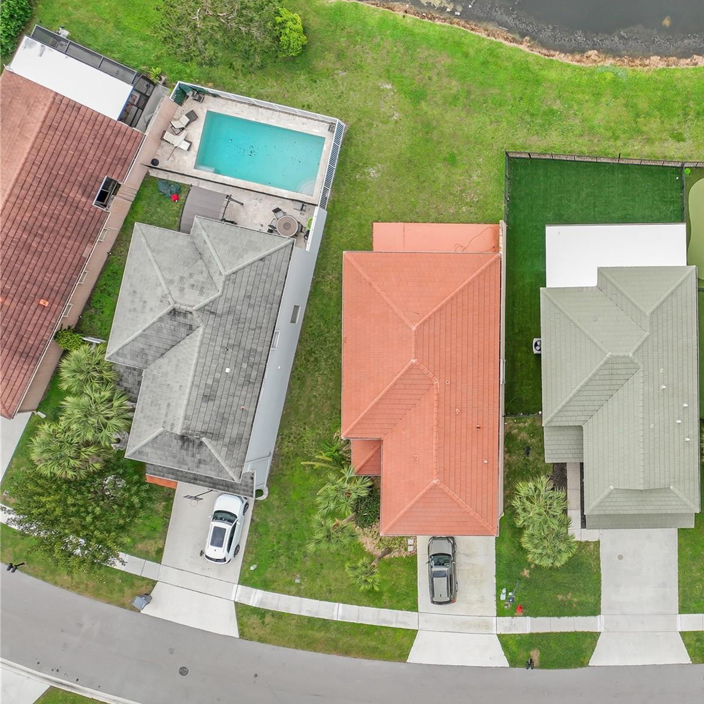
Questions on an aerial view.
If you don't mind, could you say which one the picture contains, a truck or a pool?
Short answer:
pool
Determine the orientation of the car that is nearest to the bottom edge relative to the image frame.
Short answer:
up and down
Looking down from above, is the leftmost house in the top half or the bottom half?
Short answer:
top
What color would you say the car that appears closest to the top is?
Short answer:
white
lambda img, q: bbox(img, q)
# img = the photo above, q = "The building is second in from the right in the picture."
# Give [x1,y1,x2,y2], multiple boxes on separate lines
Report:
[339,249,507,537]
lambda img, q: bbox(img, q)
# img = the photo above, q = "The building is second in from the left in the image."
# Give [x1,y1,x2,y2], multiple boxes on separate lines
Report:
[104,215,318,499]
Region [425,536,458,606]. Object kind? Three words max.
car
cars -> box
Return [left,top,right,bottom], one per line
[203,493,247,564]
[425,536,458,606]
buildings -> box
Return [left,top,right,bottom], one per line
[104,215,318,499]
[540,223,702,529]
[339,249,507,537]
[0,34,158,420]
